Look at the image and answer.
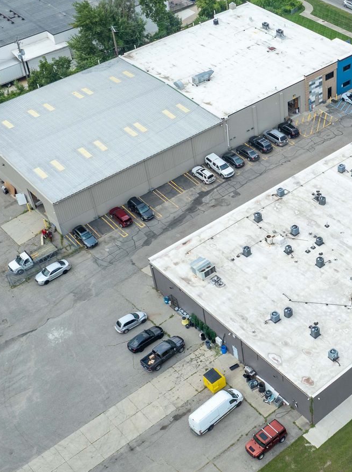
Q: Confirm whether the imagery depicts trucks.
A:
Yes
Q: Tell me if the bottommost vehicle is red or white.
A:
red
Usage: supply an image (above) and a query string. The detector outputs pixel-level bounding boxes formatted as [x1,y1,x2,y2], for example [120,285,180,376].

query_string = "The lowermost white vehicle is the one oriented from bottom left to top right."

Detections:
[187,387,246,435]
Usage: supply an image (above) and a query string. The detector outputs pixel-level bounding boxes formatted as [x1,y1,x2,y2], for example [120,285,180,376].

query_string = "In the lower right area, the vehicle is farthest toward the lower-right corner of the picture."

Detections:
[245,416,290,459]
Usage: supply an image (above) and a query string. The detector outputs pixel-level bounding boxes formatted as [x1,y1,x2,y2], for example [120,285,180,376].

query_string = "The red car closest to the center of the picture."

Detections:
[108,207,136,228]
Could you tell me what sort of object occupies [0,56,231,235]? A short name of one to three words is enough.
building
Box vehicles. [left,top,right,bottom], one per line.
[276,122,303,139]
[248,136,276,153]
[190,165,218,184]
[262,128,291,147]
[125,327,166,355]
[8,237,65,276]
[245,416,290,459]
[187,387,246,435]
[114,313,149,333]
[34,258,73,285]
[125,193,155,219]
[223,153,247,169]
[341,93,352,104]
[108,207,136,228]
[137,336,187,373]
[70,220,100,247]
[235,145,262,162]
[203,150,236,176]
[343,0,352,8]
